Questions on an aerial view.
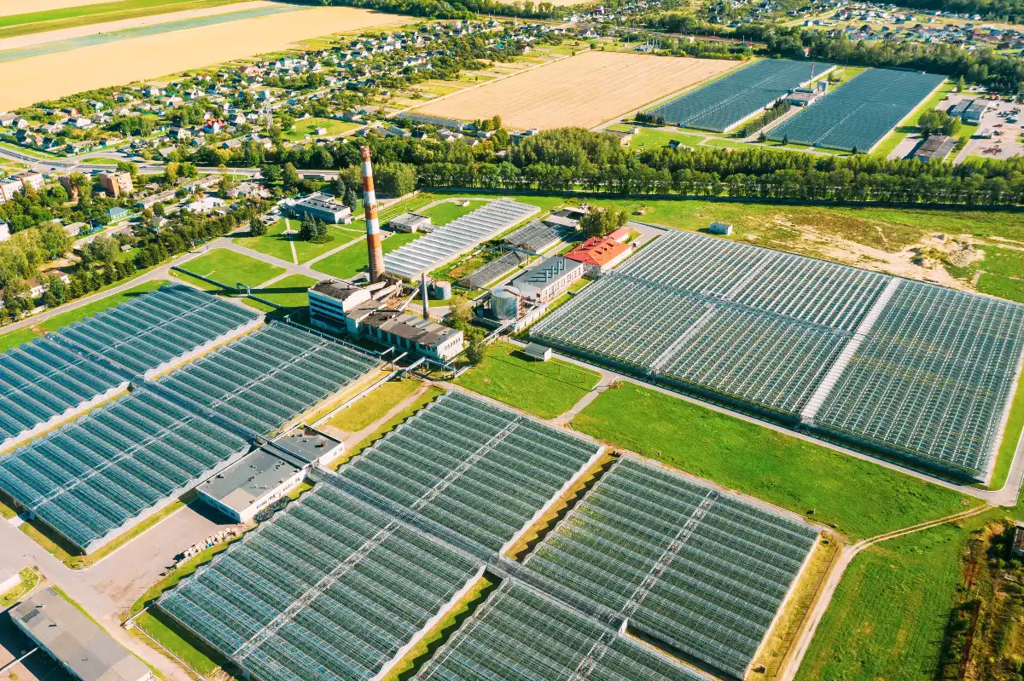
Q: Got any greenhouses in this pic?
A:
Yes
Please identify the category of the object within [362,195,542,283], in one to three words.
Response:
greenhouse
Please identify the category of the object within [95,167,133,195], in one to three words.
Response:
building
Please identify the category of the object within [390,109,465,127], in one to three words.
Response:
shed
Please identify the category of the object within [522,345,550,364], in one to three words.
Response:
shed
